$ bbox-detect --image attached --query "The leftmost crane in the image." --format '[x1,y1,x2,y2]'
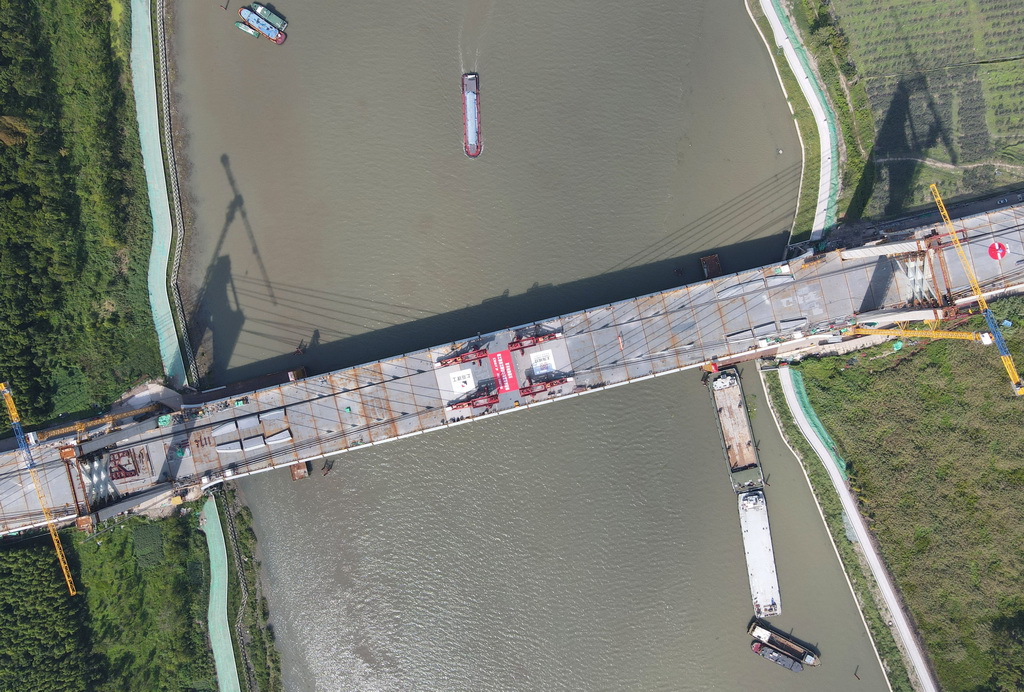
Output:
[0,379,168,600]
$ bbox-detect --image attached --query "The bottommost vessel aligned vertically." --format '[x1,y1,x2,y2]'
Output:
[739,490,781,619]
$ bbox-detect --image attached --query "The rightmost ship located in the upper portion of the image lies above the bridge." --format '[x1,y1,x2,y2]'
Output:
[461,75,481,158]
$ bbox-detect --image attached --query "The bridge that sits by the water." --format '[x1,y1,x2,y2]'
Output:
[0,204,1024,533]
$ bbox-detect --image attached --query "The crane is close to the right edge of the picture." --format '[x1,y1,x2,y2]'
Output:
[847,181,1024,401]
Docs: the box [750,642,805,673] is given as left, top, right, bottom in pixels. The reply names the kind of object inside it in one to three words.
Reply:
boat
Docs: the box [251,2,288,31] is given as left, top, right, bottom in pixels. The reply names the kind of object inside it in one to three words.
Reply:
ship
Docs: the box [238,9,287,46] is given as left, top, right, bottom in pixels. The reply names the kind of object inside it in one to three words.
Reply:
ship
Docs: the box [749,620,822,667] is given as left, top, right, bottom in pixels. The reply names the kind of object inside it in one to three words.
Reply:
boat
